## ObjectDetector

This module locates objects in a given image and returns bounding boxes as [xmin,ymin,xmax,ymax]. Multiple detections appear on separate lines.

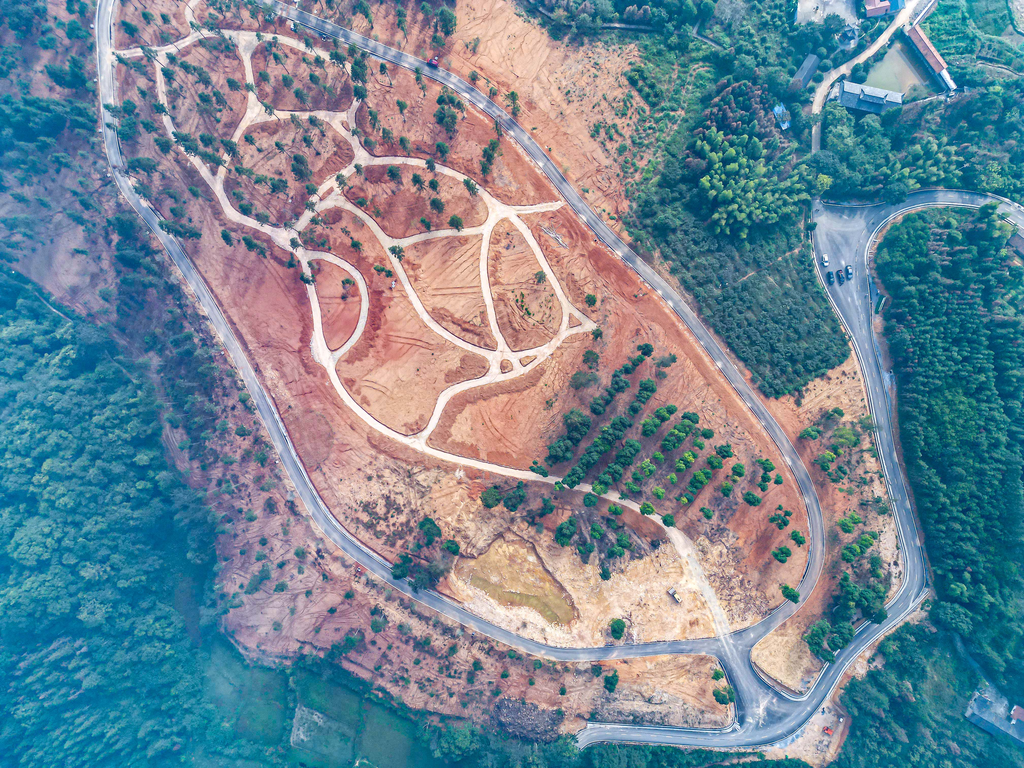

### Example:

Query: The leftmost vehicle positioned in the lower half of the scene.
[669,588,683,604]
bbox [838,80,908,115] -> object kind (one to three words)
building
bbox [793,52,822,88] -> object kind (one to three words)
shed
